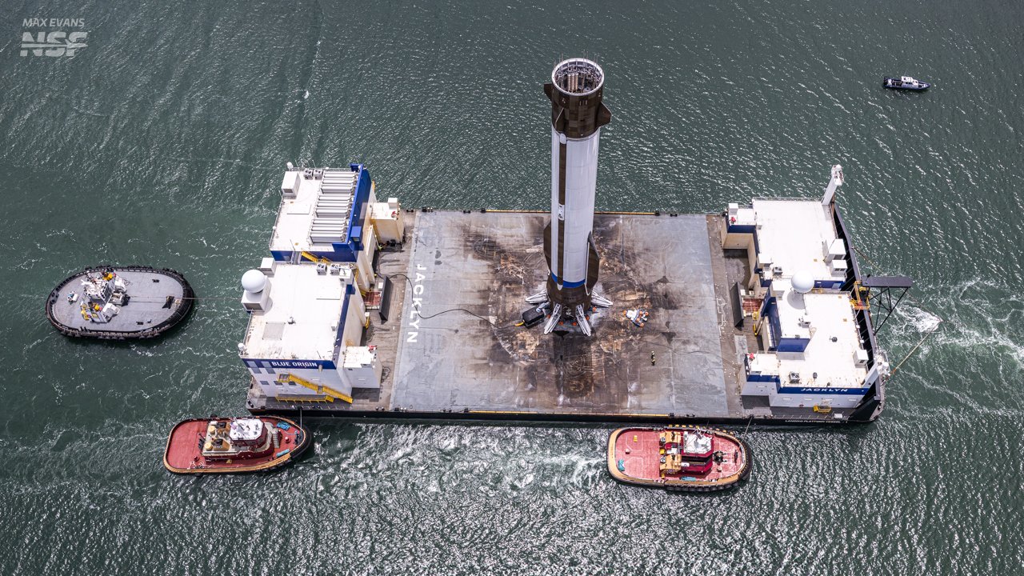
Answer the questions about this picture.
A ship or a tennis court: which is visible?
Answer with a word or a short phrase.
ship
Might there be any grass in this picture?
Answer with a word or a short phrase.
No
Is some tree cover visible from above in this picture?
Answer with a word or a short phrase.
No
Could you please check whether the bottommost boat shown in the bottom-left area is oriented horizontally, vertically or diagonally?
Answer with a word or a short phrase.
horizontally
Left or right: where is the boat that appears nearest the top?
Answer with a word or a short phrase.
right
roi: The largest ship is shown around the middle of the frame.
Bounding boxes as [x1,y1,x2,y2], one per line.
[238,158,912,429]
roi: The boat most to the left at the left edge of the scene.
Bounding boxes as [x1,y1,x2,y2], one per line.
[44,263,195,344]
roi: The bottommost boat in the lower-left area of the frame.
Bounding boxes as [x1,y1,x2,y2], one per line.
[162,415,313,478]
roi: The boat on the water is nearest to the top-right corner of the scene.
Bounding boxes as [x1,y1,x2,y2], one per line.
[882,69,930,89]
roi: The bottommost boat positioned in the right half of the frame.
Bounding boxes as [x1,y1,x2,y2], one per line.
[608,423,754,494]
